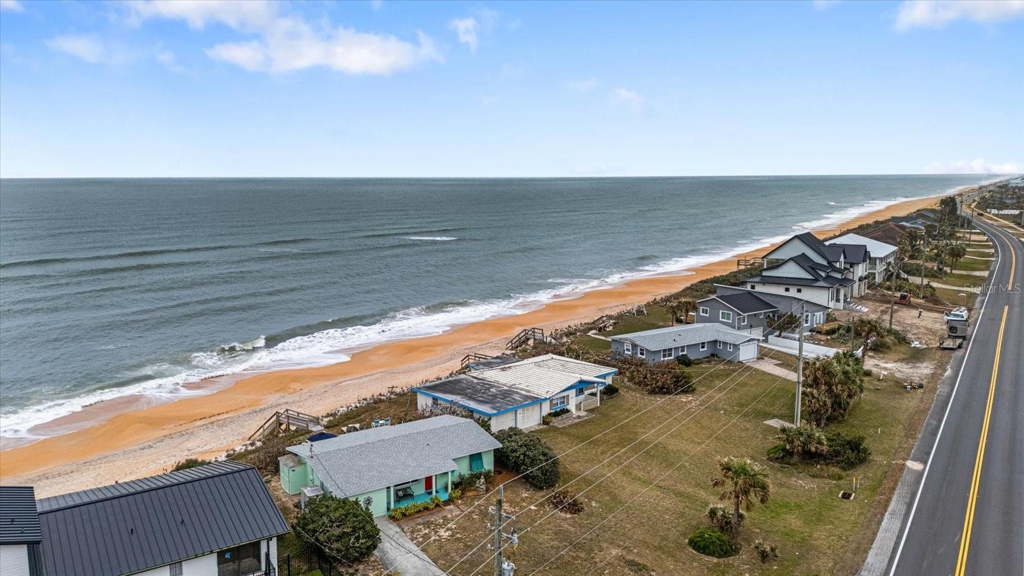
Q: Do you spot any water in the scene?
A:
Yes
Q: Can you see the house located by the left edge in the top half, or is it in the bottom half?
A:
bottom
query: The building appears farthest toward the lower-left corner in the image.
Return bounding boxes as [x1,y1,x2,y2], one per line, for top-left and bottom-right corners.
[0,455,287,576]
